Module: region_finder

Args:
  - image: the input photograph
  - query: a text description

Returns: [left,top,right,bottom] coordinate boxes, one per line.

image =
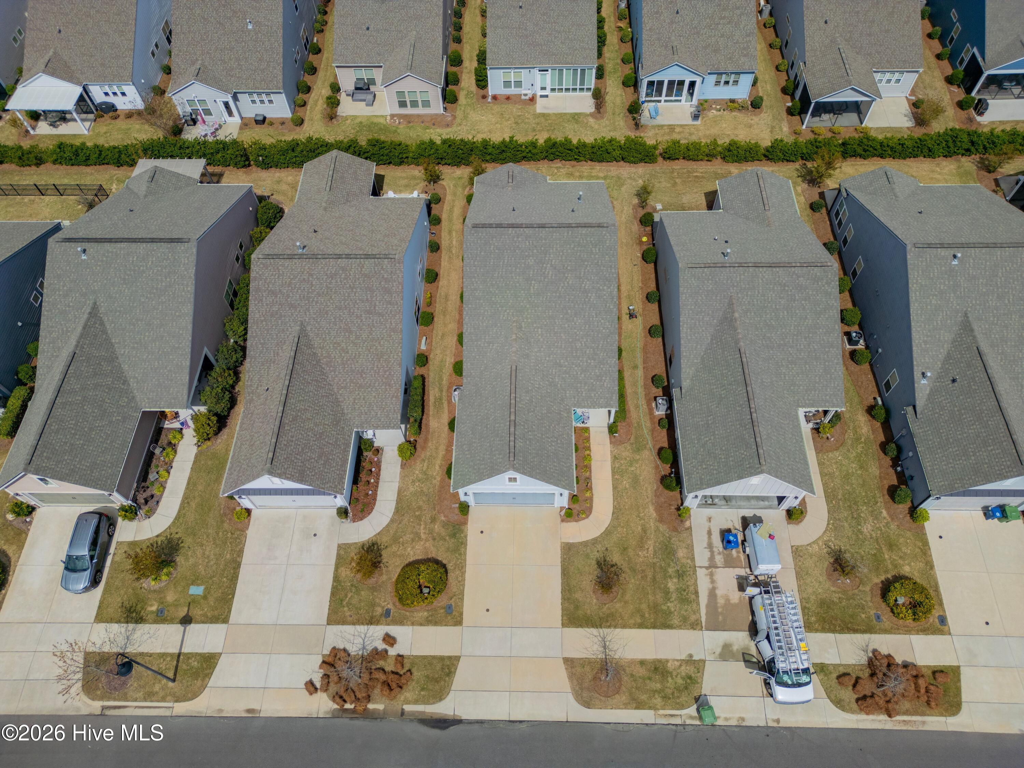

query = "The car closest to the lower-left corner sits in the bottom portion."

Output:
[59,513,117,596]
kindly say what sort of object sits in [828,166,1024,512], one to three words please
house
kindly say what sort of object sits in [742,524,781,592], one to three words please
trailer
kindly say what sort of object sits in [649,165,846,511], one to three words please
house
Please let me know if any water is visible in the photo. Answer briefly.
No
